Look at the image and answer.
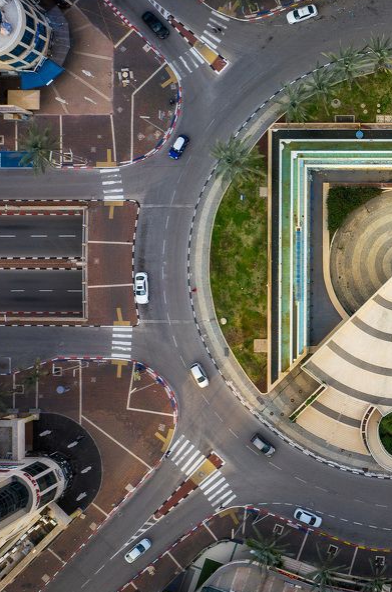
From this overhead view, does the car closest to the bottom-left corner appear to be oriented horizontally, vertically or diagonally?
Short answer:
diagonally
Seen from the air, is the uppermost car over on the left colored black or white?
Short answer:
black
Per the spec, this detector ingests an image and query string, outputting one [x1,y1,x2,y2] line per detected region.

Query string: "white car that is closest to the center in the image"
[133,273,148,303]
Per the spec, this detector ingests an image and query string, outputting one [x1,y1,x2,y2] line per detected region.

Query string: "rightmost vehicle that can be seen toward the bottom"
[292,509,322,529]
